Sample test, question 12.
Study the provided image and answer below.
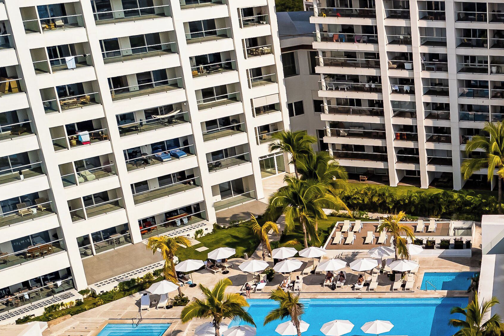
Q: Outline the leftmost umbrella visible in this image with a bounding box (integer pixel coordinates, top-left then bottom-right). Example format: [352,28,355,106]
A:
[148,279,181,309]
